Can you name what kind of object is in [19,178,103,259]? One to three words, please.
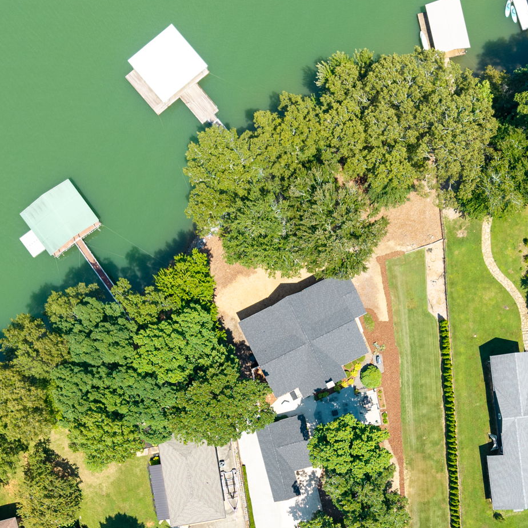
building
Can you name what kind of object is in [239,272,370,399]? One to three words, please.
house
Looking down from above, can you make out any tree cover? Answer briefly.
Yes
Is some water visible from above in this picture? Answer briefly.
Yes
